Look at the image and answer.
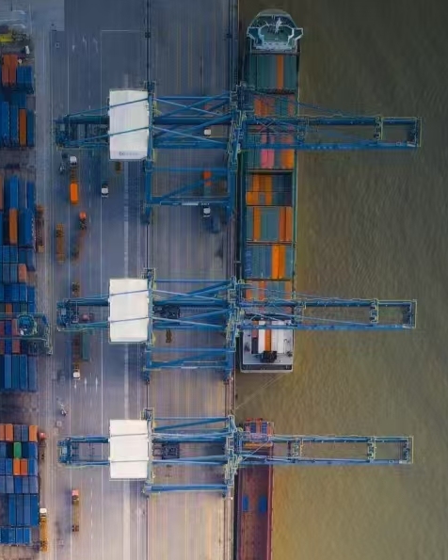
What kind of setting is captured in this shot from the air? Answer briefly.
port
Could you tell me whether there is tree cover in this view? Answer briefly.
No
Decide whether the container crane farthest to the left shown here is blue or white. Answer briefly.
blue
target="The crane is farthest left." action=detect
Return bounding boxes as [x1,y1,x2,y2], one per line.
[0,311,52,364]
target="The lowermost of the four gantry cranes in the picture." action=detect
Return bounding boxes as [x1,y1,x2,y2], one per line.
[58,406,417,508]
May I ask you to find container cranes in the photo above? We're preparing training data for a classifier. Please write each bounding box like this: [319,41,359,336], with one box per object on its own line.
[56,267,420,387]
[0,311,52,364]
[55,67,422,226]
[58,406,417,508]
